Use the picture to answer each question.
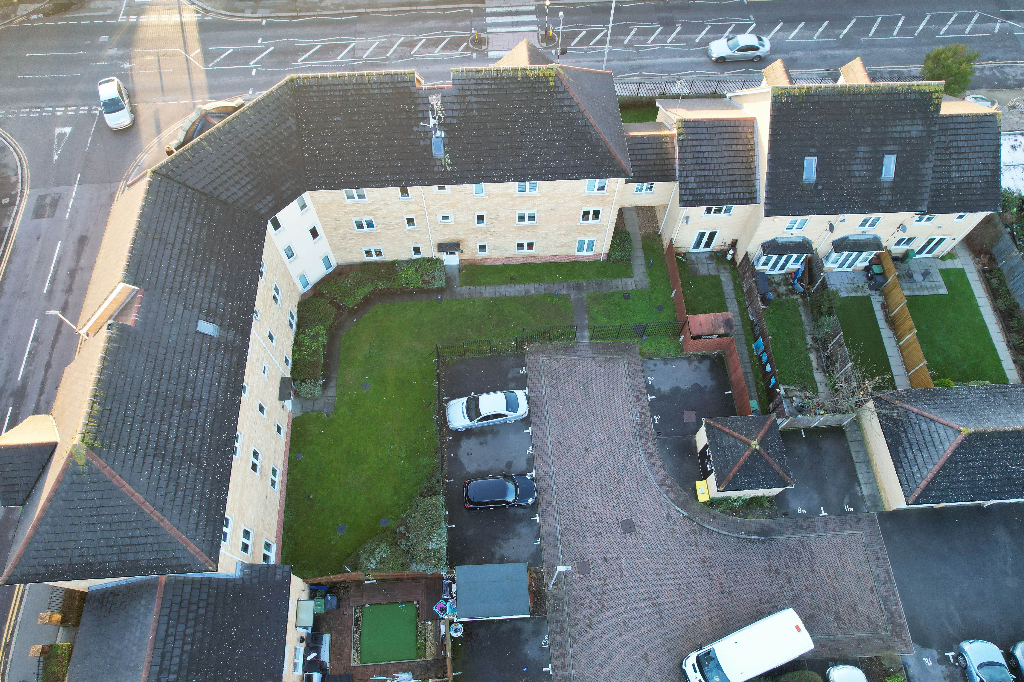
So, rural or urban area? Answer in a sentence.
The area is urban.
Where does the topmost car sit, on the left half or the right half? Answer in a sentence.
The topmost car appears in the right half of the scene.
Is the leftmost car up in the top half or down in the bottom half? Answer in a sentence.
It is in the top half that the leftmost car appears.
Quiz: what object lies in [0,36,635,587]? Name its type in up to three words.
building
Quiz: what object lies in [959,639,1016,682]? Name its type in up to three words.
car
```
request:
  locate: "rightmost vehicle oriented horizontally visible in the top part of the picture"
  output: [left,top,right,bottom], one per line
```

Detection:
[704,31,771,63]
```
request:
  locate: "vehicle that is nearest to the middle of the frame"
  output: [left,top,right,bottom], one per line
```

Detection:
[445,390,528,432]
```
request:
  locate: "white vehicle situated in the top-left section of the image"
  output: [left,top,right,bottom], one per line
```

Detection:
[97,77,136,135]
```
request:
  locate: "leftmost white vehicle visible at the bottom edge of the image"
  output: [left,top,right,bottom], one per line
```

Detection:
[683,611,811,682]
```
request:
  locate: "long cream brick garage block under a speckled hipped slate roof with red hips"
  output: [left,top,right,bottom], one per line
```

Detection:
[859,382,1024,511]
